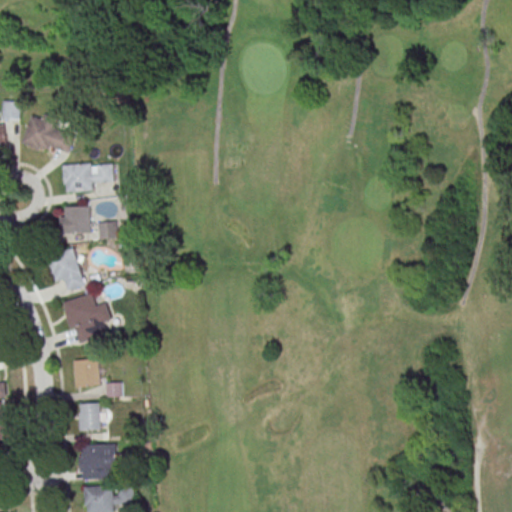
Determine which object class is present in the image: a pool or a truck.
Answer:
pool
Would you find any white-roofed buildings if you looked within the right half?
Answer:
No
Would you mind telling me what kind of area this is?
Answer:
golf course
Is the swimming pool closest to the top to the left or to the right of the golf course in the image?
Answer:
on the left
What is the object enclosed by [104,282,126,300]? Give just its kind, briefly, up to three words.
swimming pool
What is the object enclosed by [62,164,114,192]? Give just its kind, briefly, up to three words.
house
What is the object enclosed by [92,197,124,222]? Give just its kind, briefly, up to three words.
swimming pool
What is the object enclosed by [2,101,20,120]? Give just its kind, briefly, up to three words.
building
